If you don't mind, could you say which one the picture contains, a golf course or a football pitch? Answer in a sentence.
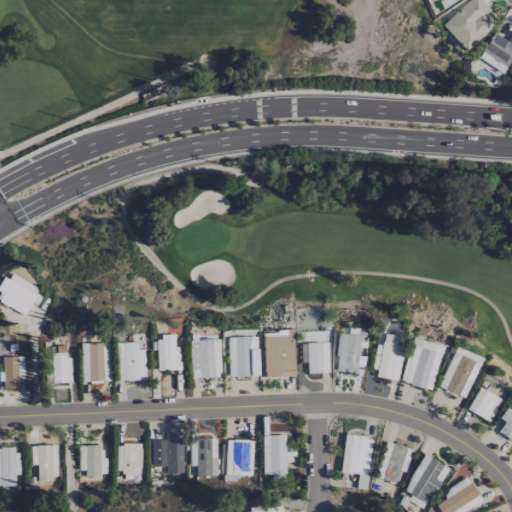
I can see a golf course in this picture.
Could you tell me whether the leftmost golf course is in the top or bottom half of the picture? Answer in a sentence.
Seen from above, the leftmost golf course lies in the top half of the view.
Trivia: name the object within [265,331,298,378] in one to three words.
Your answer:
house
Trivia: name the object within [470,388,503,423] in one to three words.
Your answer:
house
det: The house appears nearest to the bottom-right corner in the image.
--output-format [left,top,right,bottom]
[430,477,484,512]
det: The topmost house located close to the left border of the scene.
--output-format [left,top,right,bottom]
[0,275,40,314]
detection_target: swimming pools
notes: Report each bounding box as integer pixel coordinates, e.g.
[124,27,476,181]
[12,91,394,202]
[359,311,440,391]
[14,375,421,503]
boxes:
[478,69,497,84]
